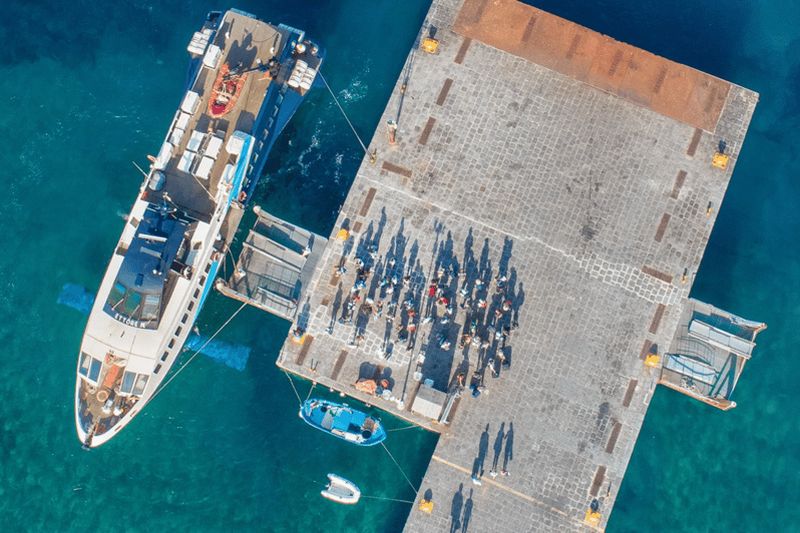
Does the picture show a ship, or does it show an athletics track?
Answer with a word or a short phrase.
ship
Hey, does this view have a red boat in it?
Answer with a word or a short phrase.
Yes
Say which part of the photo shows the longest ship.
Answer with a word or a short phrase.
left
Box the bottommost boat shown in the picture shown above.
[320,474,362,502]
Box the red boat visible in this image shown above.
[211,63,246,119]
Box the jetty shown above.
[277,0,759,533]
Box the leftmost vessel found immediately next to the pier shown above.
[60,6,323,453]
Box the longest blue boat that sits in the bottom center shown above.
[296,398,387,445]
